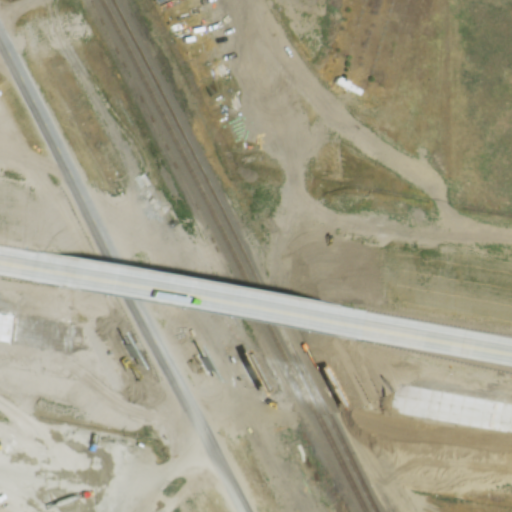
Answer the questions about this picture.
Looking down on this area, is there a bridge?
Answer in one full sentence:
Yes, a bridge appears in the view.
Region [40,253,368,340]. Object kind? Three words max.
bridge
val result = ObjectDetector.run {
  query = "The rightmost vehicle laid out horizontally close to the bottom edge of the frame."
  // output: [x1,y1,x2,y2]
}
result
[46,491,96,508]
